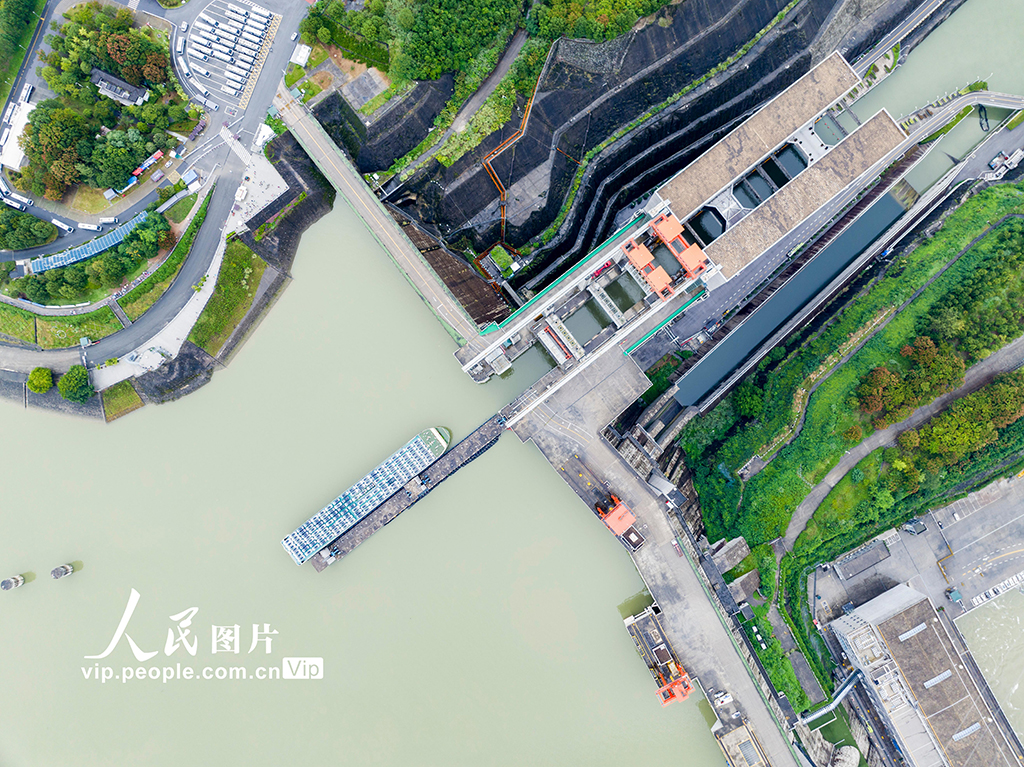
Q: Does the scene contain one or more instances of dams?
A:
Yes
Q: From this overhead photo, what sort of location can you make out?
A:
port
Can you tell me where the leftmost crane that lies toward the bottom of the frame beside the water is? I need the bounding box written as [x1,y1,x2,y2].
[596,493,638,539]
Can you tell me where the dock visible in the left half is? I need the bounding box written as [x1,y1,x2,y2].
[310,415,508,574]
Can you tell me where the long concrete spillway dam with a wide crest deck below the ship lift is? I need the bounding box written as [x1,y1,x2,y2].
[505,263,822,767]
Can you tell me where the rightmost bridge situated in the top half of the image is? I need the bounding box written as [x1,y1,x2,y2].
[971,87,1024,112]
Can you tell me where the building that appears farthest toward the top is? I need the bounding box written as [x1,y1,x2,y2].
[291,44,313,69]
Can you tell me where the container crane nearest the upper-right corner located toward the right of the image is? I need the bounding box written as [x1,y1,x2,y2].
[644,211,708,283]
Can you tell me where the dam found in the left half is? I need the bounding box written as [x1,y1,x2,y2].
[263,94,515,347]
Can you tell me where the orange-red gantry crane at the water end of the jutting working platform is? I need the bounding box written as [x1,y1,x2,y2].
[650,664,697,708]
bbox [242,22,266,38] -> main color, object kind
white vehicle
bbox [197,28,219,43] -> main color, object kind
white vehicle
